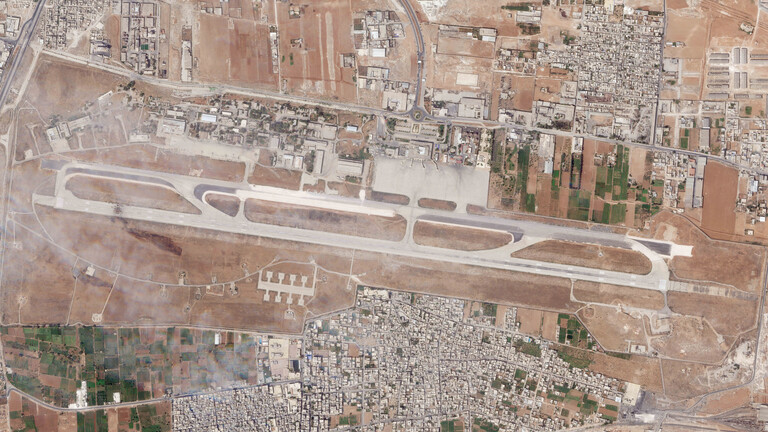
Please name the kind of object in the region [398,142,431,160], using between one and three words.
building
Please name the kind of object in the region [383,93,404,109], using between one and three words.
building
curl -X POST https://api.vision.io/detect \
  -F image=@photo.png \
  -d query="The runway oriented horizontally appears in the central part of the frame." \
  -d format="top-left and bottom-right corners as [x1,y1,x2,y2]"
[56,196,664,291]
